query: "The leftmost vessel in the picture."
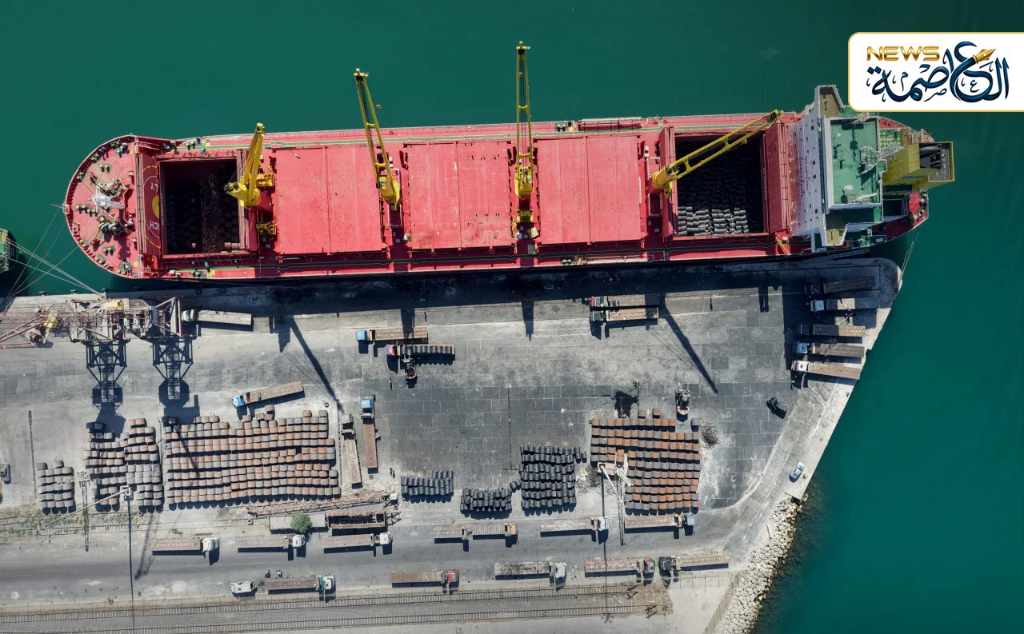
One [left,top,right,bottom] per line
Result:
[0,232,28,271]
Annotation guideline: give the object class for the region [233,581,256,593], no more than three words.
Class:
vehicle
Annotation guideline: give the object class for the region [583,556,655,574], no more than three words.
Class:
vehicle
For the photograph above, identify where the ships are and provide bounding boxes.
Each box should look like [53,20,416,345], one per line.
[49,41,952,283]
[0,232,28,271]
